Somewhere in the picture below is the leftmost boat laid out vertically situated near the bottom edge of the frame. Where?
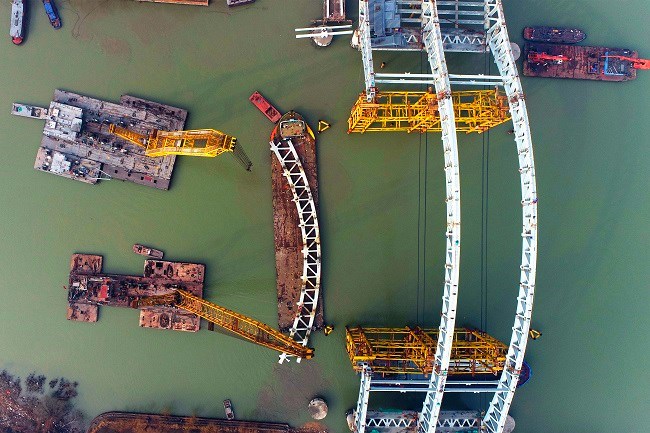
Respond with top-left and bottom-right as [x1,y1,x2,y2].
[222,398,235,419]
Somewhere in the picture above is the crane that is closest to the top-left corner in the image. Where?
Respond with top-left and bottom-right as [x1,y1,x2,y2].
[41,89,253,187]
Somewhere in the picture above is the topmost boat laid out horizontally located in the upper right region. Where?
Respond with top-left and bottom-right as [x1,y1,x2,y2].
[524,25,585,44]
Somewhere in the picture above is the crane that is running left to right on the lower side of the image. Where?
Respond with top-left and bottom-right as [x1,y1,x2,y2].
[66,254,316,359]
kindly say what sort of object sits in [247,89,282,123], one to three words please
boat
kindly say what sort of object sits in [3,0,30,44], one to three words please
ship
